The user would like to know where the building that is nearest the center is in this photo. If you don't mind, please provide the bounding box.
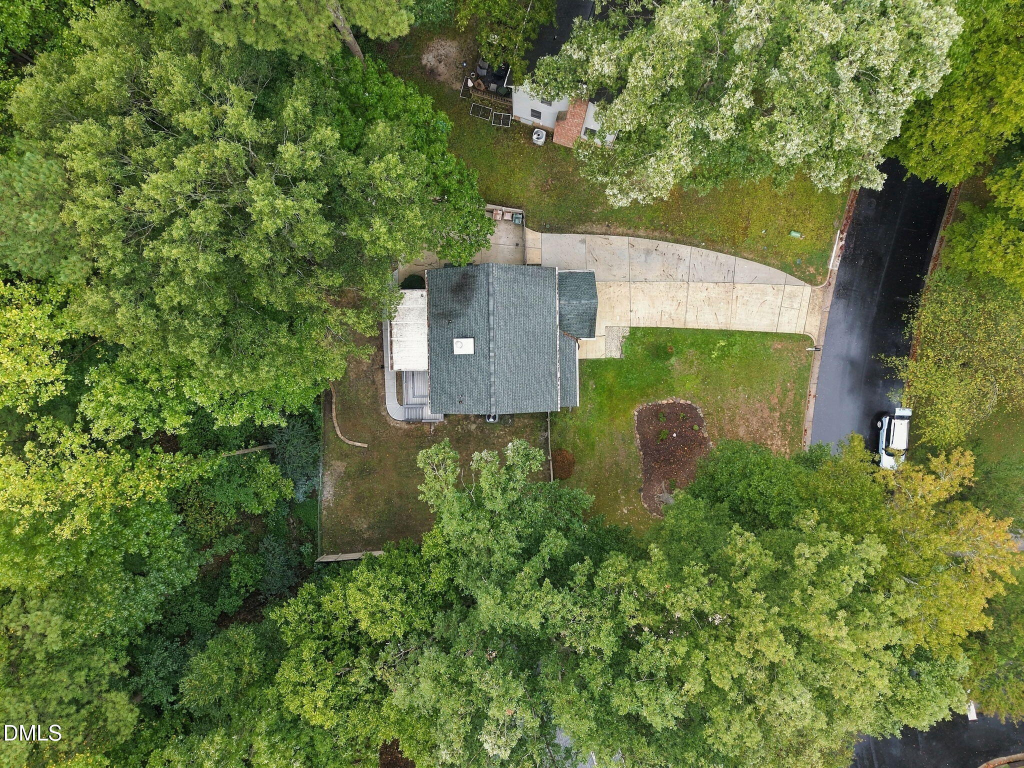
[387,263,596,414]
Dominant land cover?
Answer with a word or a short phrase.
trees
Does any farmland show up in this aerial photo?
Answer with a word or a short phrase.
No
